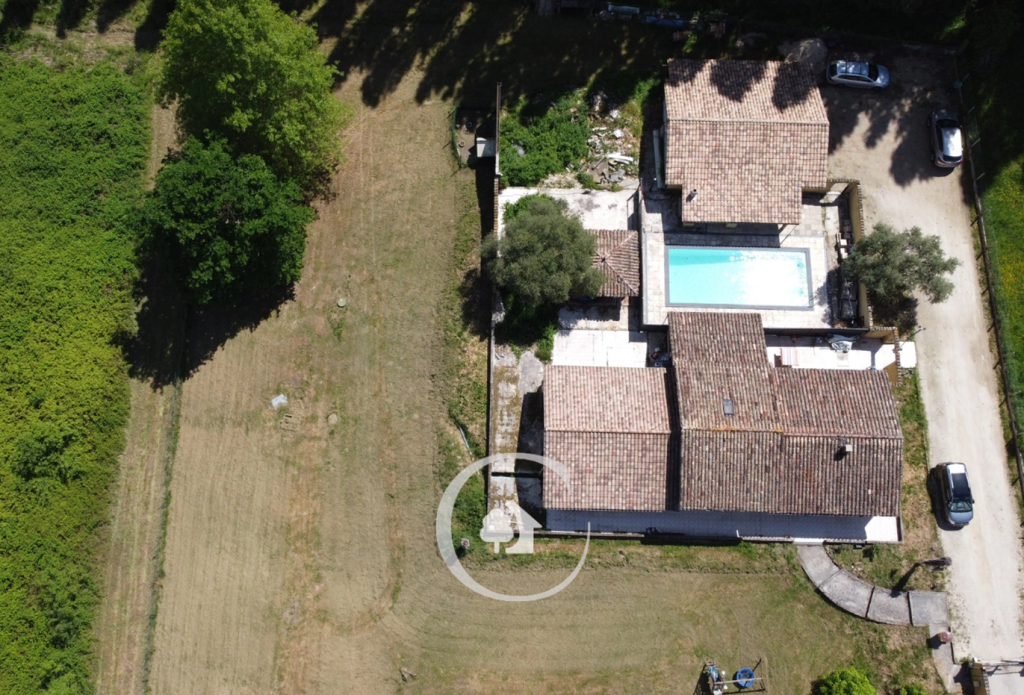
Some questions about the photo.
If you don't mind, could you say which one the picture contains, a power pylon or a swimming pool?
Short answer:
swimming pool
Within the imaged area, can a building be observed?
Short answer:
Yes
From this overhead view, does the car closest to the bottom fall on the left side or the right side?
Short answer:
right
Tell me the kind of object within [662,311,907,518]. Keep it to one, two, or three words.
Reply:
house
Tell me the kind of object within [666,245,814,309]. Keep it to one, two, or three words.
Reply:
swimming pool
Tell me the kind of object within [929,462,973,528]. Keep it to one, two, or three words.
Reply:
car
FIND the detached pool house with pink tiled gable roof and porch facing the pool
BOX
[657,56,833,234]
